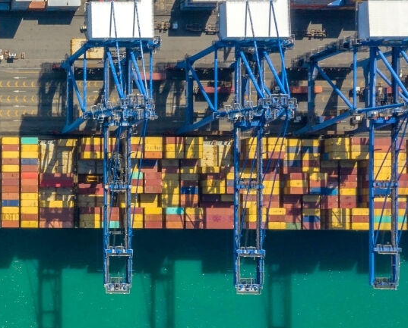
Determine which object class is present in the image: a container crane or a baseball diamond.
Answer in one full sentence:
The one in the frame is a container crane.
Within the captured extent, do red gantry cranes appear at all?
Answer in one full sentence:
No, there is no red gantry crane in the image.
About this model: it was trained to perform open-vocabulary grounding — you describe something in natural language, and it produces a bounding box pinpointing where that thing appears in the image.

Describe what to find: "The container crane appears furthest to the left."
[45,0,157,292]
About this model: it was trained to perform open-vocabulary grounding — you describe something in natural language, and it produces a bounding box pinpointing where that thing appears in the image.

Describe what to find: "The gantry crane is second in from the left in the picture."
[158,0,298,293]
